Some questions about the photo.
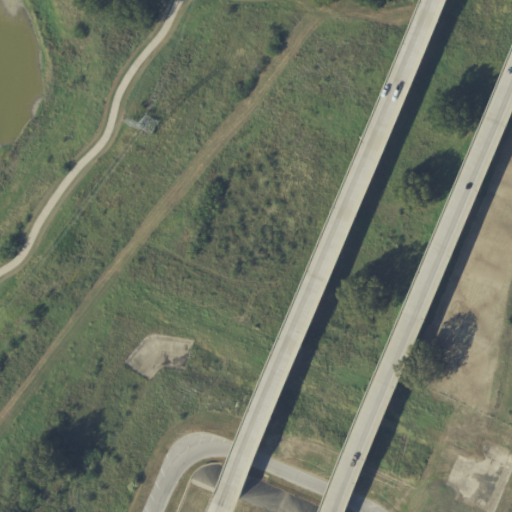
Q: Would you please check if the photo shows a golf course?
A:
No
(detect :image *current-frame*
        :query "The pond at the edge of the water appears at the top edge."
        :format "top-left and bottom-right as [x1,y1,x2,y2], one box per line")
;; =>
[0,0,45,146]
